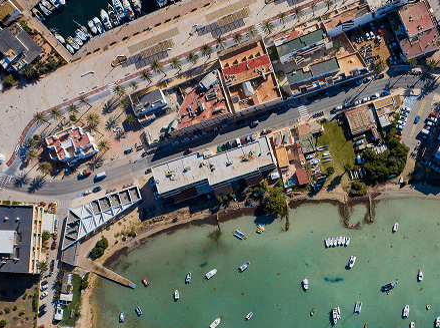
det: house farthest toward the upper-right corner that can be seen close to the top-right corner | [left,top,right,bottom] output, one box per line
[395,0,436,40]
